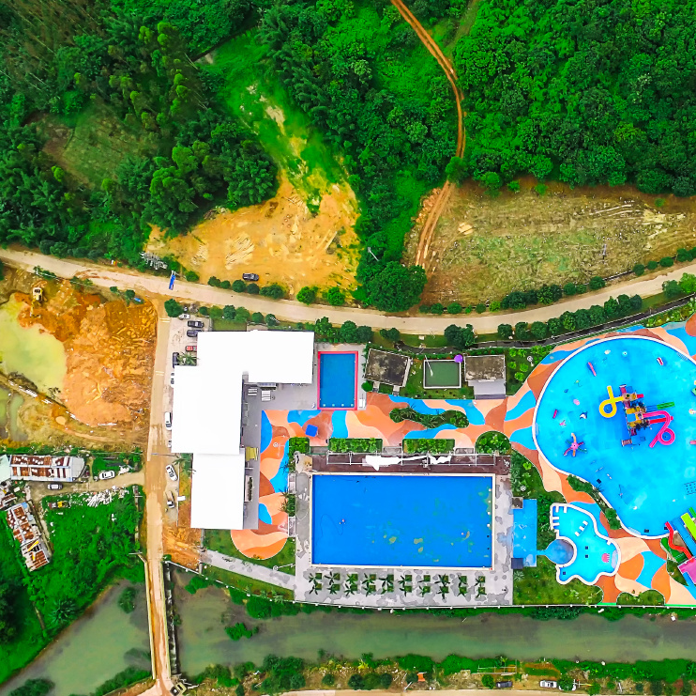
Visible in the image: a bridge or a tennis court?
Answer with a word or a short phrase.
bridge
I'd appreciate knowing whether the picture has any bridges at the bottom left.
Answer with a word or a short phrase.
Yes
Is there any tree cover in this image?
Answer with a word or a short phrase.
Yes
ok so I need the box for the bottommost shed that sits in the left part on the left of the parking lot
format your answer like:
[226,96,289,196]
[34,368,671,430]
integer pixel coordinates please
[8,501,55,570]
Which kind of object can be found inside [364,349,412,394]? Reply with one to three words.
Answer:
building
